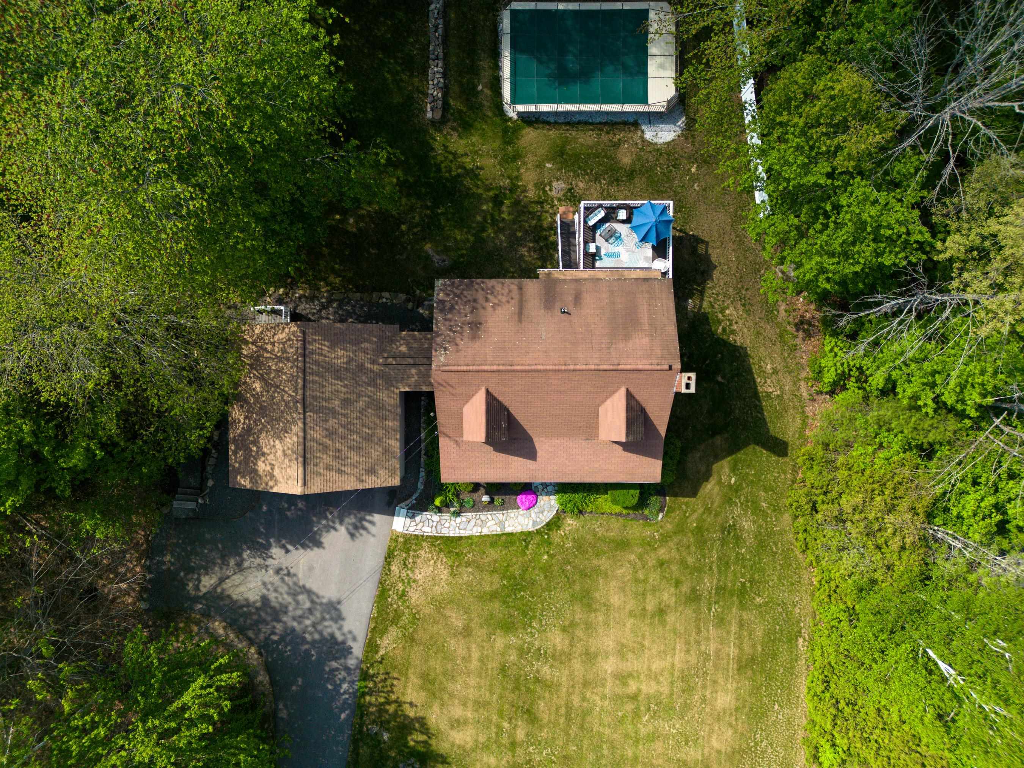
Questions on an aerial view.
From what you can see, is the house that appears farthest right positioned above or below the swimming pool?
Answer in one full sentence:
The house that appears farthest right is found below the swimming pool in the photo.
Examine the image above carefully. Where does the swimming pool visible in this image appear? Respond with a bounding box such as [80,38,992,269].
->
[503,0,680,116]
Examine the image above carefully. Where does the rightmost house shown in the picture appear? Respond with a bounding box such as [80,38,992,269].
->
[432,269,695,483]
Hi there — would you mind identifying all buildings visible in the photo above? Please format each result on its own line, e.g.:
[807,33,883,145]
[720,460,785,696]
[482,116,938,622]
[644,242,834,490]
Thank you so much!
[432,269,695,483]
[229,321,405,494]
